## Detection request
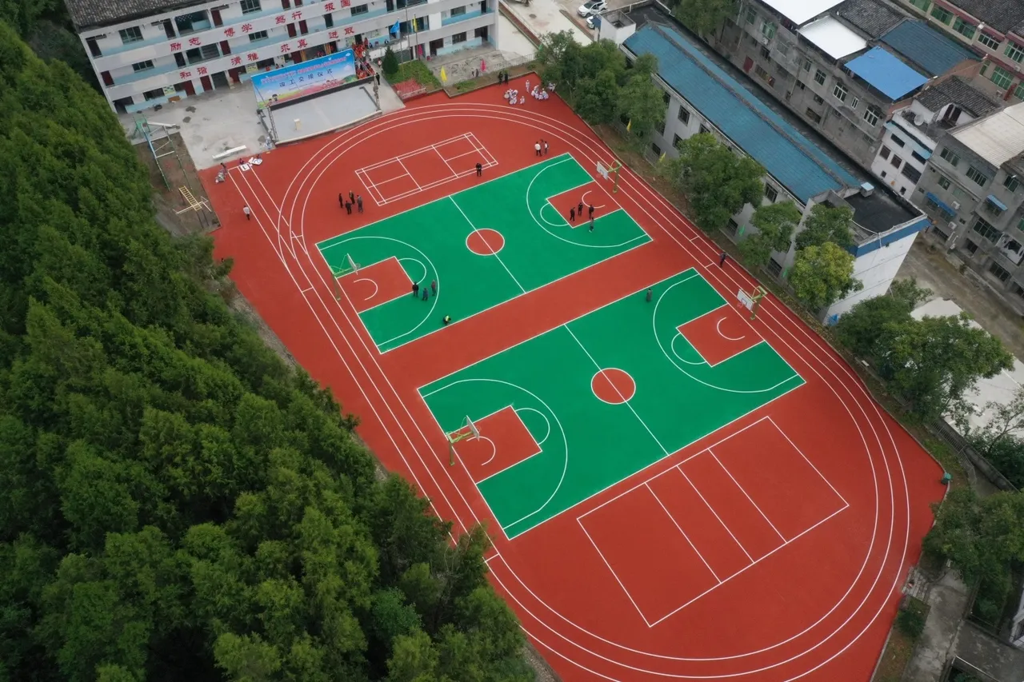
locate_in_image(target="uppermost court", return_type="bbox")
[355,132,498,205]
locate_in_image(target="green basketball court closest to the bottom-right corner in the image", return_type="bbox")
[417,267,806,540]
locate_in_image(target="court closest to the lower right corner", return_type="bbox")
[578,416,849,627]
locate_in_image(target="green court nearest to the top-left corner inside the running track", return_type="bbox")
[315,152,653,354]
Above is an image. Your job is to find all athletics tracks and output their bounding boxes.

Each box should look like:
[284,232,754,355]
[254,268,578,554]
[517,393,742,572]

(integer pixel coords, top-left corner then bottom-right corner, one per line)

[198,73,945,682]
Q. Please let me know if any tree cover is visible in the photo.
Yes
